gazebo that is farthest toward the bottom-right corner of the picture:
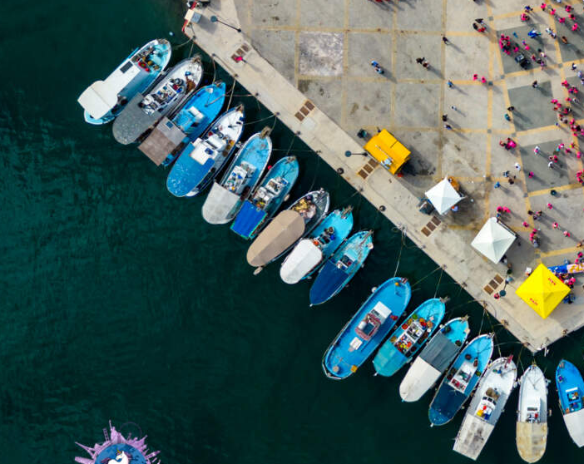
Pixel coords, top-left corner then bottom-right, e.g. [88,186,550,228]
[516,260,571,318]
